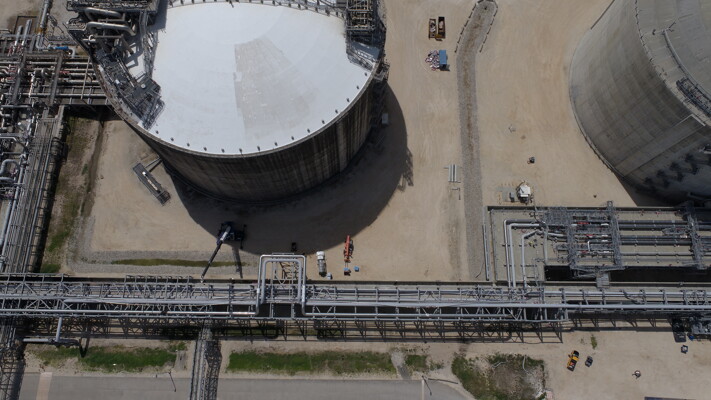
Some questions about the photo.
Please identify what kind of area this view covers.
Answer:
industrial area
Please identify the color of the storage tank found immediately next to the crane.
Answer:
white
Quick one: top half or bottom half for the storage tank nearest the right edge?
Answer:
top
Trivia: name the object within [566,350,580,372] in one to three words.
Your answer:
vehicle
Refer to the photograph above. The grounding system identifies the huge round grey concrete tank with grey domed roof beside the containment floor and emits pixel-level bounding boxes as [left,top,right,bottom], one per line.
[568,0,711,206]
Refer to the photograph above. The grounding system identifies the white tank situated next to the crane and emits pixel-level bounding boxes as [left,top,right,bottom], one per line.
[61,0,396,209]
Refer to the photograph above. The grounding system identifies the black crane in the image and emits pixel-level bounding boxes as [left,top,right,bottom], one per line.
[200,221,249,281]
